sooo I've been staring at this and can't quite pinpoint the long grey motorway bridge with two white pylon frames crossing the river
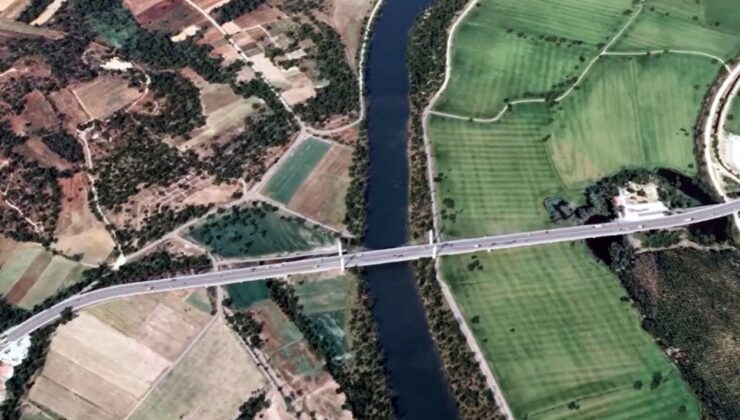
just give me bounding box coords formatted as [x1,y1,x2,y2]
[0,196,740,353]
